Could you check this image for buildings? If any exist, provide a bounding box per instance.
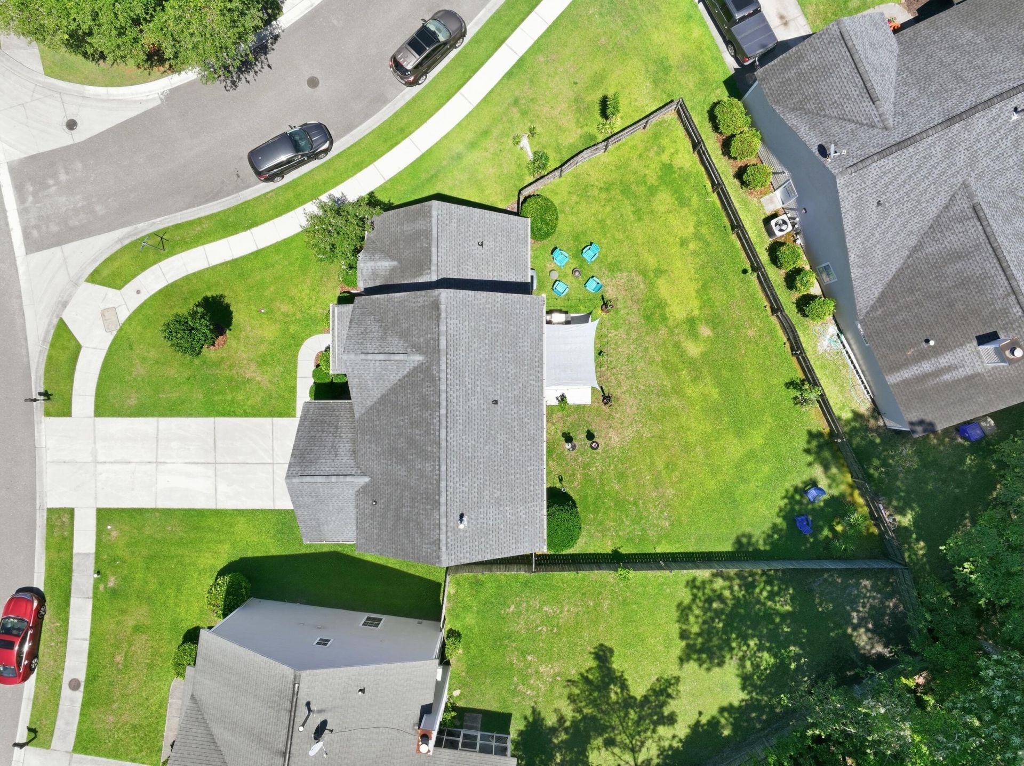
[285,200,548,567]
[742,0,1024,437]
[167,602,516,766]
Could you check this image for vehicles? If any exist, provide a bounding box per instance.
[697,0,776,68]
[247,122,333,184]
[392,11,467,85]
[0,594,47,682]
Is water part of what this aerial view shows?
No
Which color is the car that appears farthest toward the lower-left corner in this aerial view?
red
